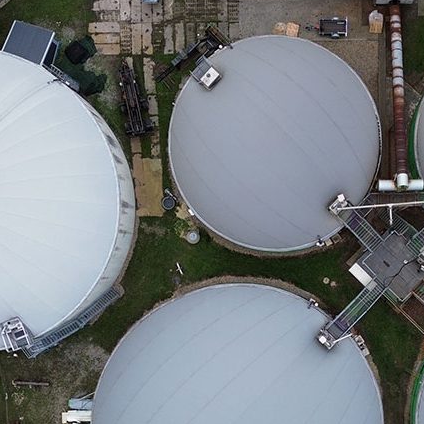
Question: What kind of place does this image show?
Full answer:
The area seen from above is an industrial area.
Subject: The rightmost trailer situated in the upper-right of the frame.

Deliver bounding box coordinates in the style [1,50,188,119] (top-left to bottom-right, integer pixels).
[305,16,347,42]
